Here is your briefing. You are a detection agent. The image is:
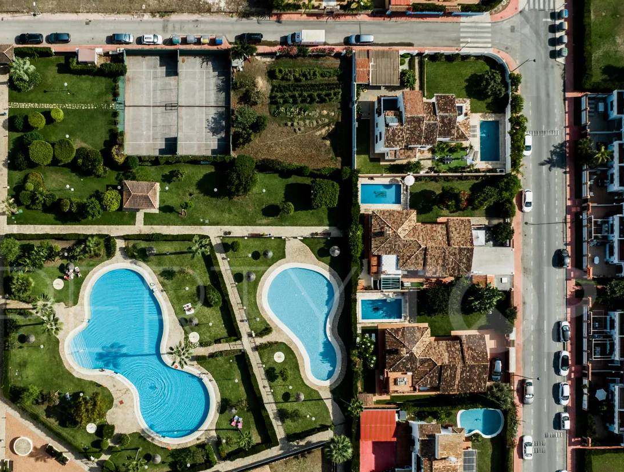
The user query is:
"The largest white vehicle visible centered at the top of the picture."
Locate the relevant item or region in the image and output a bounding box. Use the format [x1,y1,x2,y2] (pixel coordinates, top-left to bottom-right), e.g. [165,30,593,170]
[288,28,325,45]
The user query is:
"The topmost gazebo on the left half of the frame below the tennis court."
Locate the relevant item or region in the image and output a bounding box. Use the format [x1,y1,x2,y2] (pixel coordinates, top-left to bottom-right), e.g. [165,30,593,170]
[122,180,159,211]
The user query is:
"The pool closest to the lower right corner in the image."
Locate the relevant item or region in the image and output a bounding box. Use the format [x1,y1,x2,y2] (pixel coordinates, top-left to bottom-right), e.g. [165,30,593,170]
[457,408,504,437]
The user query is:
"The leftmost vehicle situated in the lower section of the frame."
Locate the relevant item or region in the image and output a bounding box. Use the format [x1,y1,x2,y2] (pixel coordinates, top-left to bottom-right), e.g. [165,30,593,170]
[490,359,503,379]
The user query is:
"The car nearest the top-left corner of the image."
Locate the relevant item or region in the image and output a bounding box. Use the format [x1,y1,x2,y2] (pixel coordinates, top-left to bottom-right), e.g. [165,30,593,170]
[18,32,42,45]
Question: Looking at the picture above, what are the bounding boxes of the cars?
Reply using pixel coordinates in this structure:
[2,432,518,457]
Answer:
[524,134,534,157]
[239,32,263,44]
[521,189,534,212]
[49,32,71,44]
[558,382,572,405]
[521,435,534,459]
[558,248,569,268]
[18,32,42,45]
[559,321,570,341]
[490,359,503,379]
[523,379,535,404]
[141,33,163,44]
[111,32,134,44]
[557,351,571,376]
[559,412,570,430]
[349,32,374,45]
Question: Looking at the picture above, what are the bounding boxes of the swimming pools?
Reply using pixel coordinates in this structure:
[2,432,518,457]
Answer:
[478,119,502,162]
[360,183,403,205]
[360,297,405,322]
[262,262,342,386]
[457,408,504,437]
[66,264,215,443]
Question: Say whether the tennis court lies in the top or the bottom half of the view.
top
